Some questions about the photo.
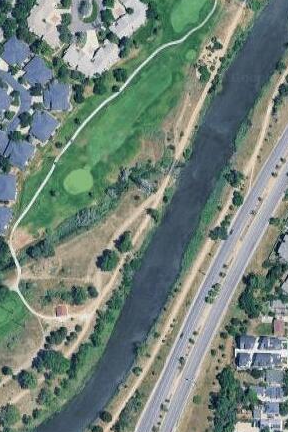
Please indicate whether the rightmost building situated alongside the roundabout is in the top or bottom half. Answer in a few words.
top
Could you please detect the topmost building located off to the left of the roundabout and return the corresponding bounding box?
[27,0,62,49]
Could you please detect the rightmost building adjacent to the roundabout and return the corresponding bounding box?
[108,0,148,35]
